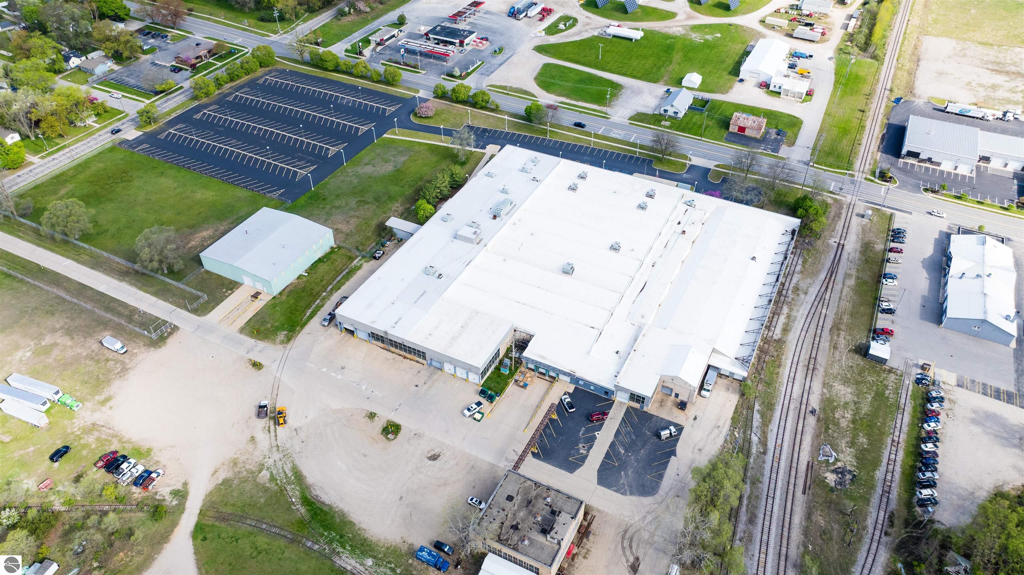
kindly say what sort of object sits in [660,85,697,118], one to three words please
house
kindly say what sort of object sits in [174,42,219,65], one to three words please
building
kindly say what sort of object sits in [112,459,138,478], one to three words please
vehicle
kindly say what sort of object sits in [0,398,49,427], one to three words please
trailer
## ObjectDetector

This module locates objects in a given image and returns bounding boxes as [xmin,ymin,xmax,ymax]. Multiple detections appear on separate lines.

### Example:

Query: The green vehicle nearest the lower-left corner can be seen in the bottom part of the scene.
[55,393,84,411]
